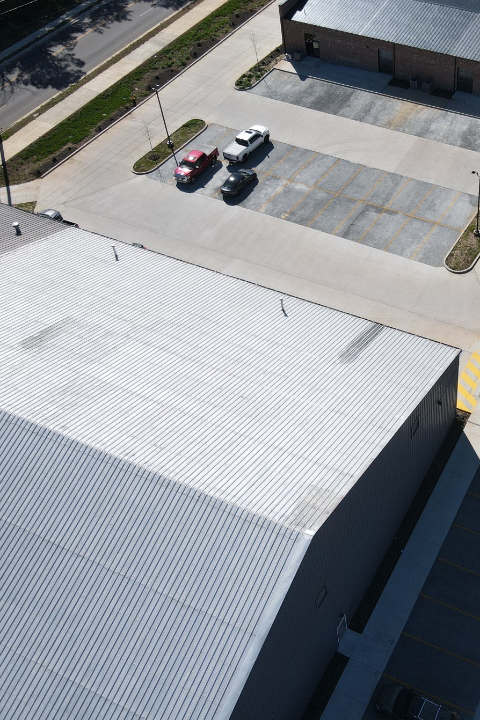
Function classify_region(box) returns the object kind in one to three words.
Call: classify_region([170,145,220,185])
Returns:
truck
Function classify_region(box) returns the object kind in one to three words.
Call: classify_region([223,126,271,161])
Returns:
truck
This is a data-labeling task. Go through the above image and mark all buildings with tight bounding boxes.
[0,229,463,720]
[276,0,480,94]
